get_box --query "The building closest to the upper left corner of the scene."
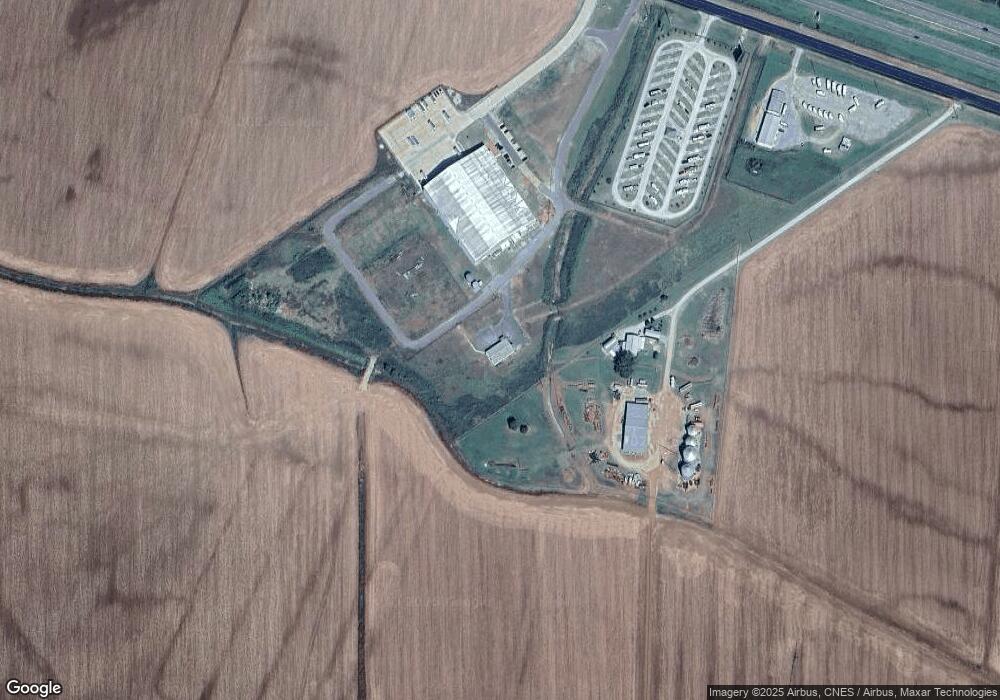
[423,149,539,264]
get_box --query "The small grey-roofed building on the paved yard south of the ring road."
[486,340,515,365]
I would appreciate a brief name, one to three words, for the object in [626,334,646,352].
house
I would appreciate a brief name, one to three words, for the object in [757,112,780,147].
building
